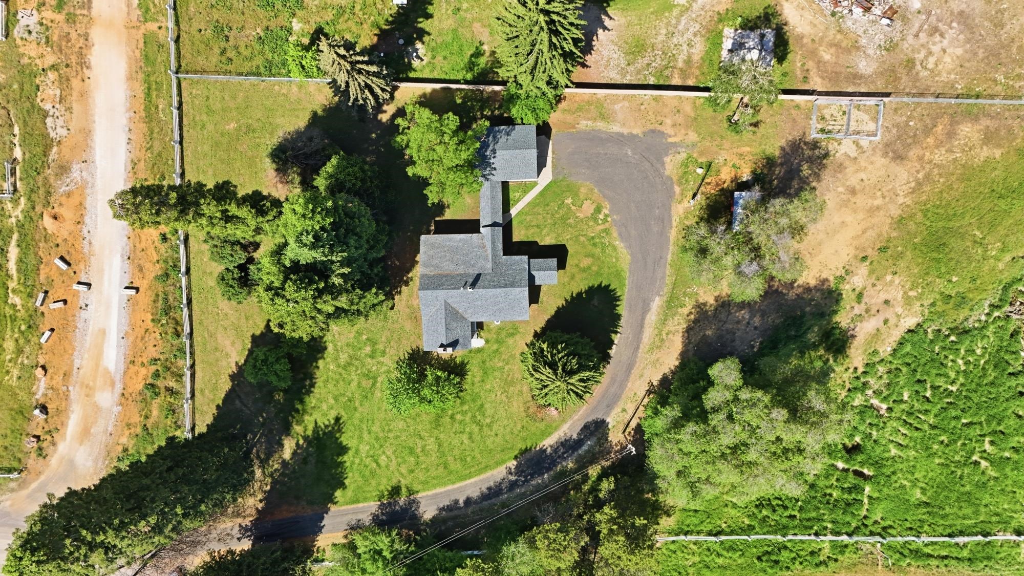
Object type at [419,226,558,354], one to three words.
house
